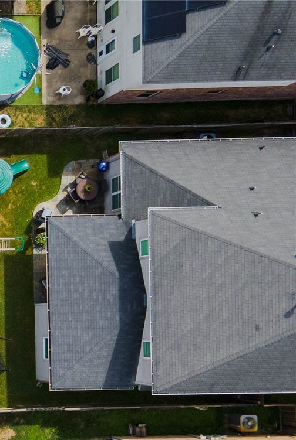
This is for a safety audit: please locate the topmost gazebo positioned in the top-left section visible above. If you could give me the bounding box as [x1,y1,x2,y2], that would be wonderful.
[45,45,69,68]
